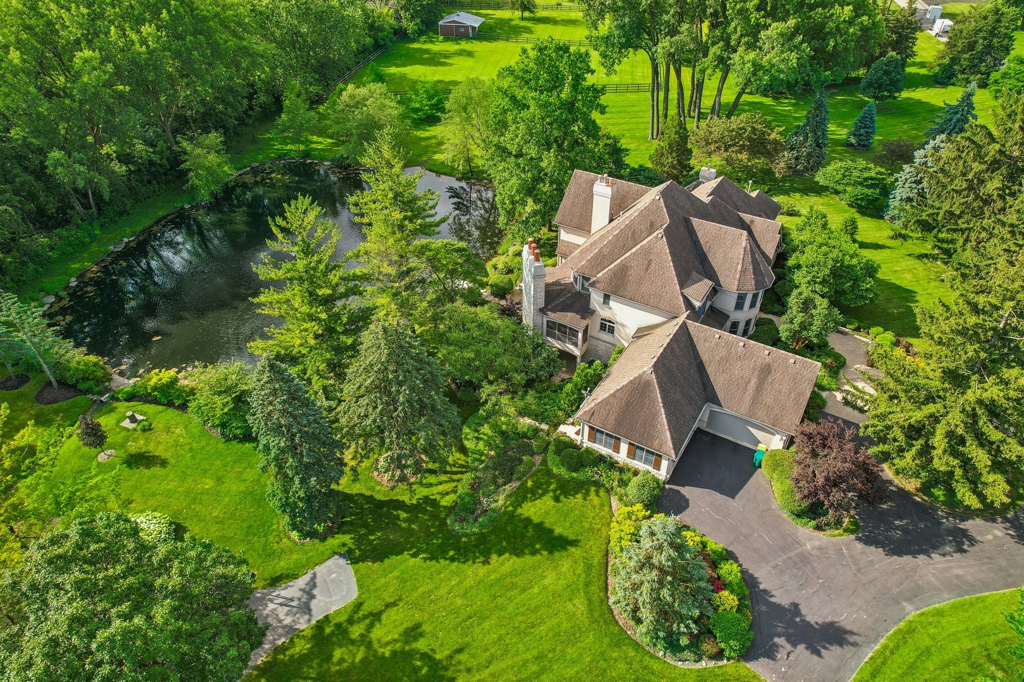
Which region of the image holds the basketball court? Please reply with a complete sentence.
You can find the basketball court in the bottom left area of the picture.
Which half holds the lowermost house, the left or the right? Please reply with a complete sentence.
You can find the lowermost house on the right side of the picture.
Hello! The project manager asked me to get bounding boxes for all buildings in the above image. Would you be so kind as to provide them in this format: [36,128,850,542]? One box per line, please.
[522,161,822,479]
[429,10,486,38]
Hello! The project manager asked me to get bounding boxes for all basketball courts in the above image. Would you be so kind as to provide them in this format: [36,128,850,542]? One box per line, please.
[192,552,357,682]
